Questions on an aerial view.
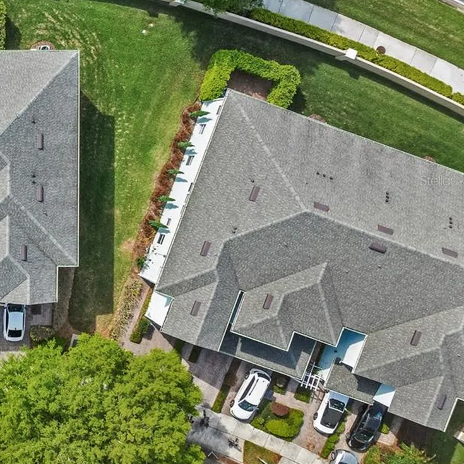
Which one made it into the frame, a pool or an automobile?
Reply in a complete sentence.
The one in the frame is an automobile.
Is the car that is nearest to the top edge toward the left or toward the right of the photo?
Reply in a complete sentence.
You can find the car that is nearest to the top edge on the left side of the picture.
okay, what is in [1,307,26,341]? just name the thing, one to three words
car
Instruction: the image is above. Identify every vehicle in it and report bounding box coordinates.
[1,307,26,341]
[224,363,272,425]
[343,395,388,453]
[324,444,356,464]
[310,388,352,438]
